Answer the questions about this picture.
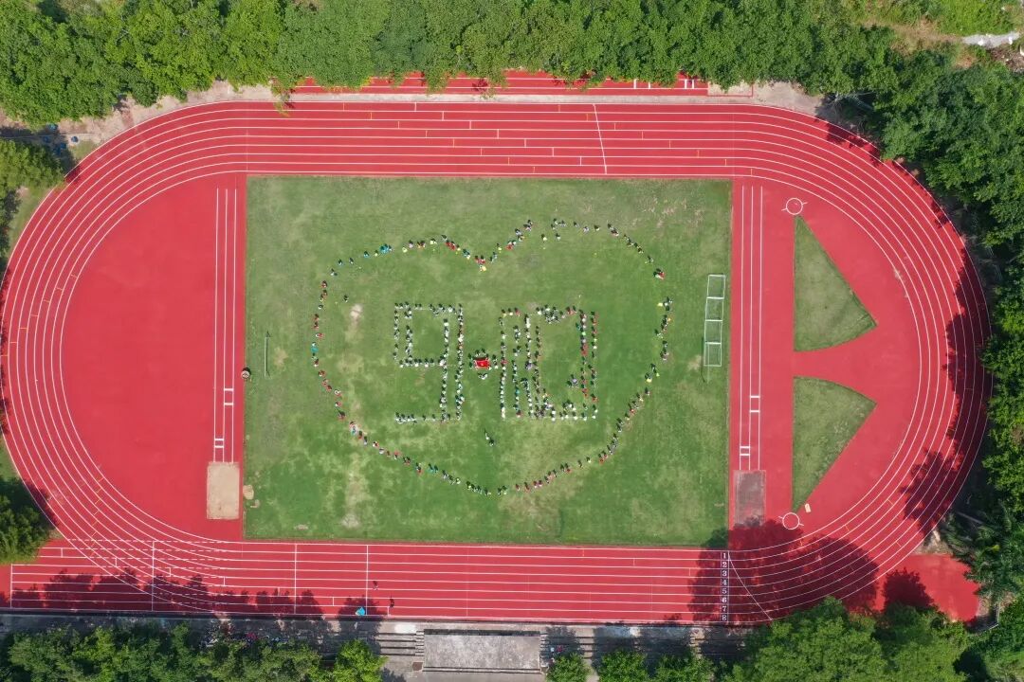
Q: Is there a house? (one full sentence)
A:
No, there isn't any house down there.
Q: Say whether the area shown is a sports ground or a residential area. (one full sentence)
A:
What you see here is a sports ground.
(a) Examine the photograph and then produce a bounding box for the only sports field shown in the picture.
[243,175,732,548]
